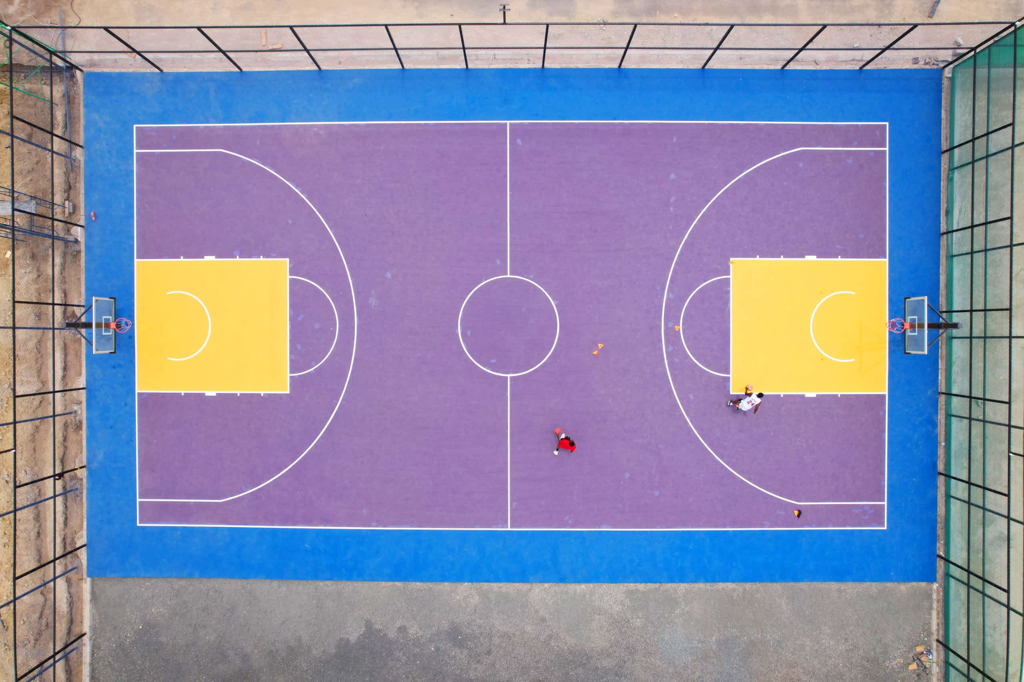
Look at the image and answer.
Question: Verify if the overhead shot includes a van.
No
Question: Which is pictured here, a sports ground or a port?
sports ground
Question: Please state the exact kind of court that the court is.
basketball court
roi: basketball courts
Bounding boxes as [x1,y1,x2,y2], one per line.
[83,67,943,583]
